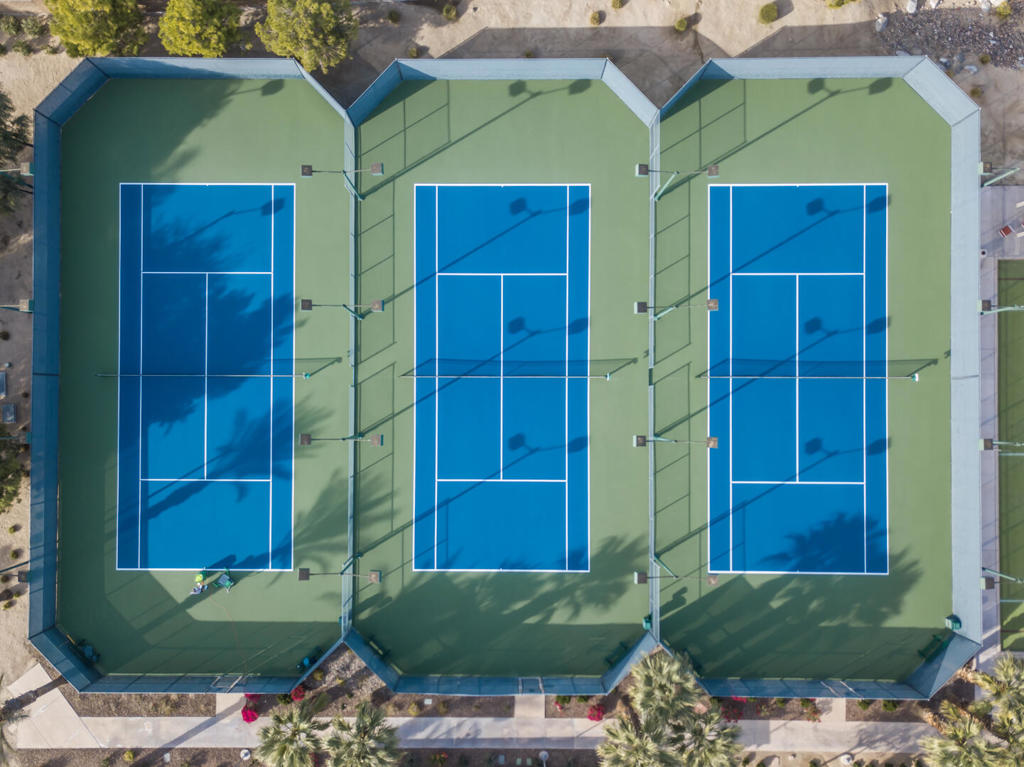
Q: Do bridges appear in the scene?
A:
No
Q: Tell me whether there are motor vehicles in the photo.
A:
No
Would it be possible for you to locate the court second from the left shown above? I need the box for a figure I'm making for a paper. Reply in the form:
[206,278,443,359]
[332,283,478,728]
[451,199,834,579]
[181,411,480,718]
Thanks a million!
[352,79,649,678]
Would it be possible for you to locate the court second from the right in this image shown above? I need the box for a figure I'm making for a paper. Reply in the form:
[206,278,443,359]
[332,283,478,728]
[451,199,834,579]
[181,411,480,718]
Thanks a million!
[650,78,954,683]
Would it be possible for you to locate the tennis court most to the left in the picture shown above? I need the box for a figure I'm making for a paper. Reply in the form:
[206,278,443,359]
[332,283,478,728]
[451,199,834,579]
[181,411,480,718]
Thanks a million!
[56,79,354,676]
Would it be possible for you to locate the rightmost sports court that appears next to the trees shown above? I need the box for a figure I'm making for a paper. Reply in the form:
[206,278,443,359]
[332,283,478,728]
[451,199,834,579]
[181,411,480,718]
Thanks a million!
[996,259,1024,653]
